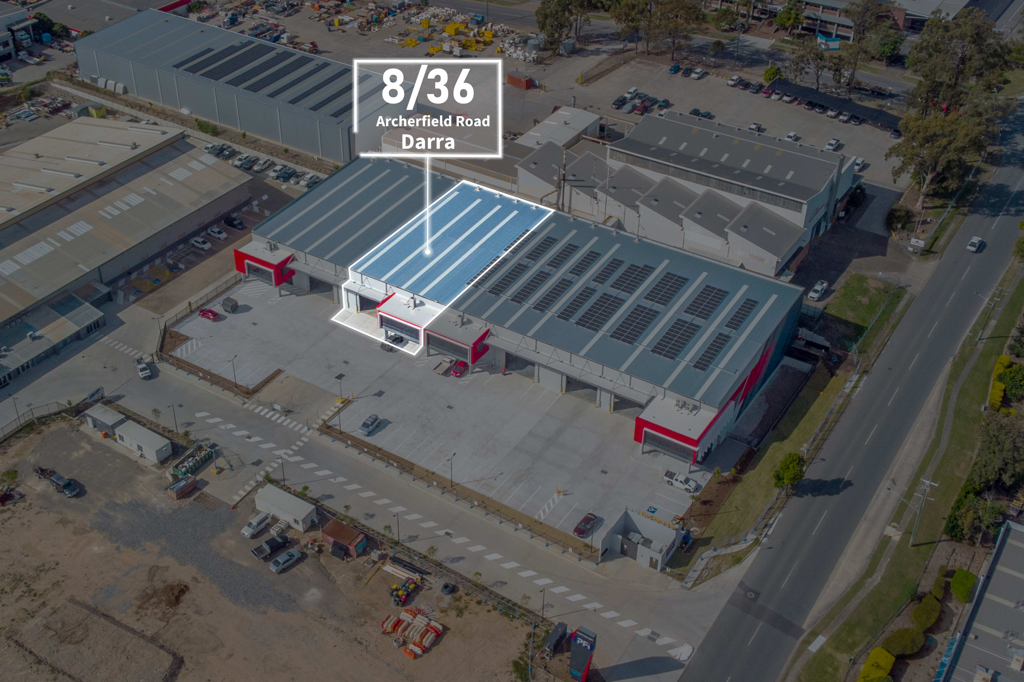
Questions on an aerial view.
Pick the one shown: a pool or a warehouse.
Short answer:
warehouse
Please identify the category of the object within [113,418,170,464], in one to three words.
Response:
building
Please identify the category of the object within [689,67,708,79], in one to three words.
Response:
vehicle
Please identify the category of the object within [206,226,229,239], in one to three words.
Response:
vehicle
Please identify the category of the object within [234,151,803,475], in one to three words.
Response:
warehouse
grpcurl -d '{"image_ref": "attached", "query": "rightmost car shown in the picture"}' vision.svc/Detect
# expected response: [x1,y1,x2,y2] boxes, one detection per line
[967,237,982,252]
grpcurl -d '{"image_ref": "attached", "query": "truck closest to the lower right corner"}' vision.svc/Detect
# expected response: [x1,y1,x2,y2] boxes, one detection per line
[662,468,698,493]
